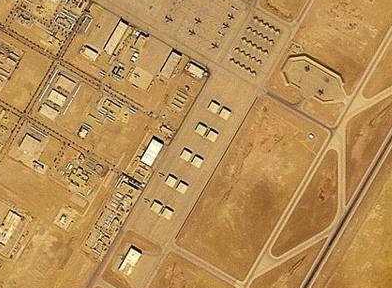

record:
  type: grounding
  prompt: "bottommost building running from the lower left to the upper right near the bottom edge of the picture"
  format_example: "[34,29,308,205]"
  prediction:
[118,248,141,276]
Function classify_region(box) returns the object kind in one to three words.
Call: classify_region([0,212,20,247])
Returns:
building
